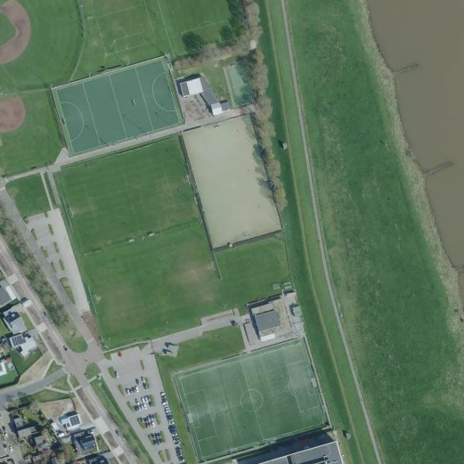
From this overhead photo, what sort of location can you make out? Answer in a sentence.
What you see here is a sports ground.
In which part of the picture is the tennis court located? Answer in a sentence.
The tennis court is in the top part of the image.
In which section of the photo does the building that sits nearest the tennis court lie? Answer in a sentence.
You can find the building that sits nearest the tennis court in the top area of the picture.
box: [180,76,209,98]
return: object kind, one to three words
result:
building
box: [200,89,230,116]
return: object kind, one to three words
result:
building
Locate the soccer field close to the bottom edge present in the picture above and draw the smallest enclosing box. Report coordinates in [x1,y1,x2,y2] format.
[174,337,329,463]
